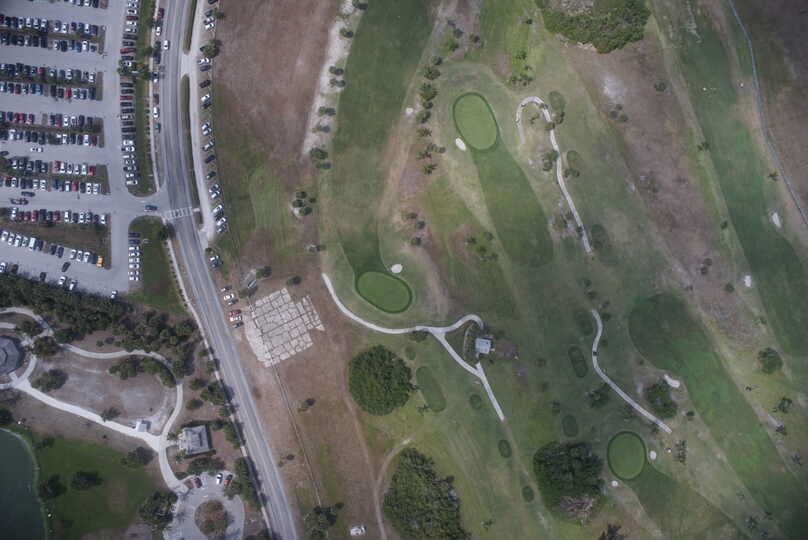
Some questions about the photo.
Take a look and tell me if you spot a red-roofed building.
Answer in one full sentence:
No, there is no red-roofed building in the image.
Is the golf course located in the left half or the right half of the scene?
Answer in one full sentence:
The golf course is on the right side of the image.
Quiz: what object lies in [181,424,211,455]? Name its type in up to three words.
building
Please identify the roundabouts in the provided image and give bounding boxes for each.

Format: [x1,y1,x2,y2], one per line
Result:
[194,501,228,538]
